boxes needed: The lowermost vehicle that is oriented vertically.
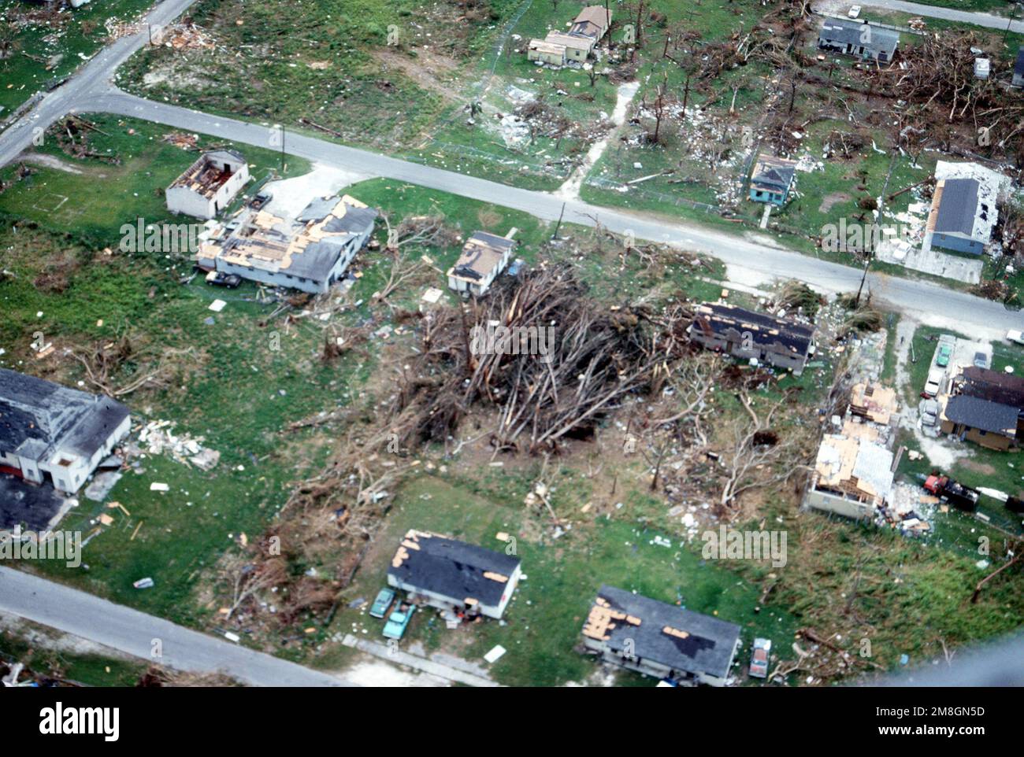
[750,638,770,680]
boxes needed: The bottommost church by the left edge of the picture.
[0,368,134,492]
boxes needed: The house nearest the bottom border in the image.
[582,585,740,697]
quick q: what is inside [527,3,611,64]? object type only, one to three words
house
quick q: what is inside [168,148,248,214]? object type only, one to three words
house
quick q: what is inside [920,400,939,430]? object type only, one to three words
car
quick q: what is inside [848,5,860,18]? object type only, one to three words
vehicle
